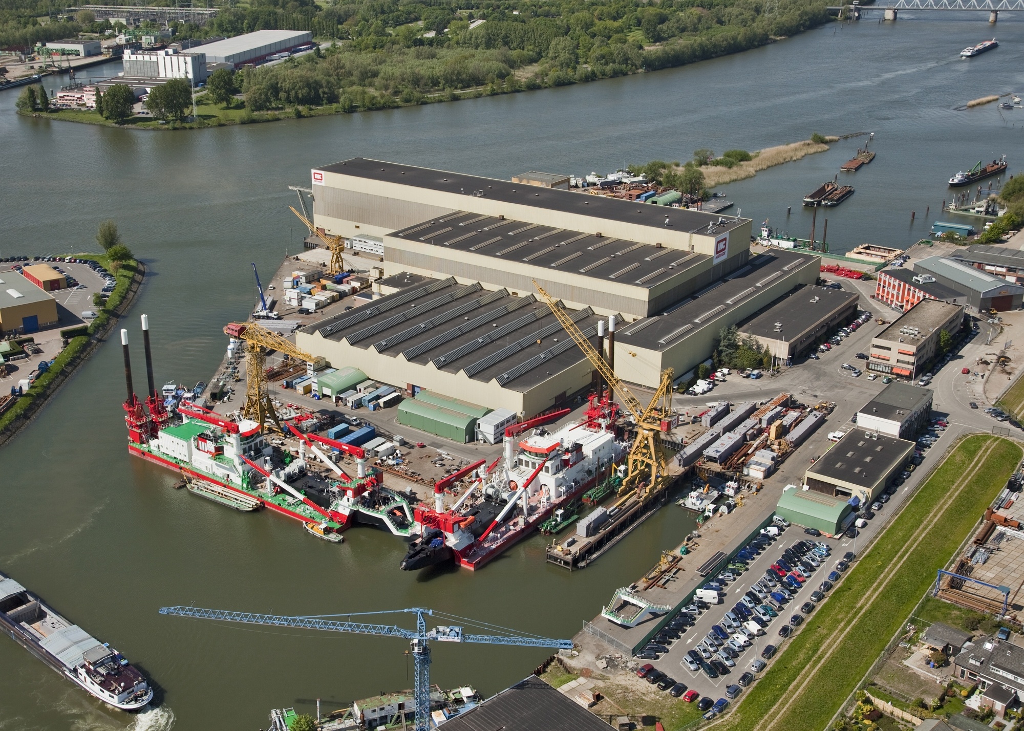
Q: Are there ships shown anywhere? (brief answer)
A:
Yes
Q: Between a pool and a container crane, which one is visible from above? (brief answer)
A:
container crane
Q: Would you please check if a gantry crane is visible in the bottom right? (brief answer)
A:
Yes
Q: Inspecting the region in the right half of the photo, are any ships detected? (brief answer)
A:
Yes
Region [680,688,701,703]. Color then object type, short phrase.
red car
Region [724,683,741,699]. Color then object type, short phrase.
gray car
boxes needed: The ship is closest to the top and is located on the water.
[958,30,1001,56]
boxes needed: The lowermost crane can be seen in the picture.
[157,596,572,731]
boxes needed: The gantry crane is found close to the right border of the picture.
[932,565,1018,617]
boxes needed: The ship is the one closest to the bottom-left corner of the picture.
[0,601,151,718]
